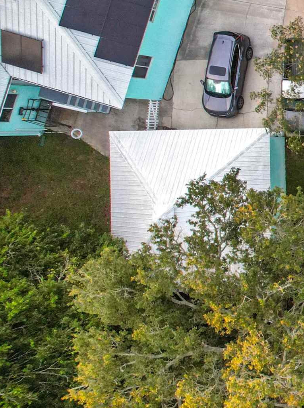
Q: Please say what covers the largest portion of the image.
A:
trees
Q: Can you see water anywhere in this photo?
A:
No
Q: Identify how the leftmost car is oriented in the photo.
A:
up and down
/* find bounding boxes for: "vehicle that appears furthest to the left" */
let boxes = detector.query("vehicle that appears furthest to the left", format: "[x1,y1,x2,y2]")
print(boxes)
[203,33,253,123]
